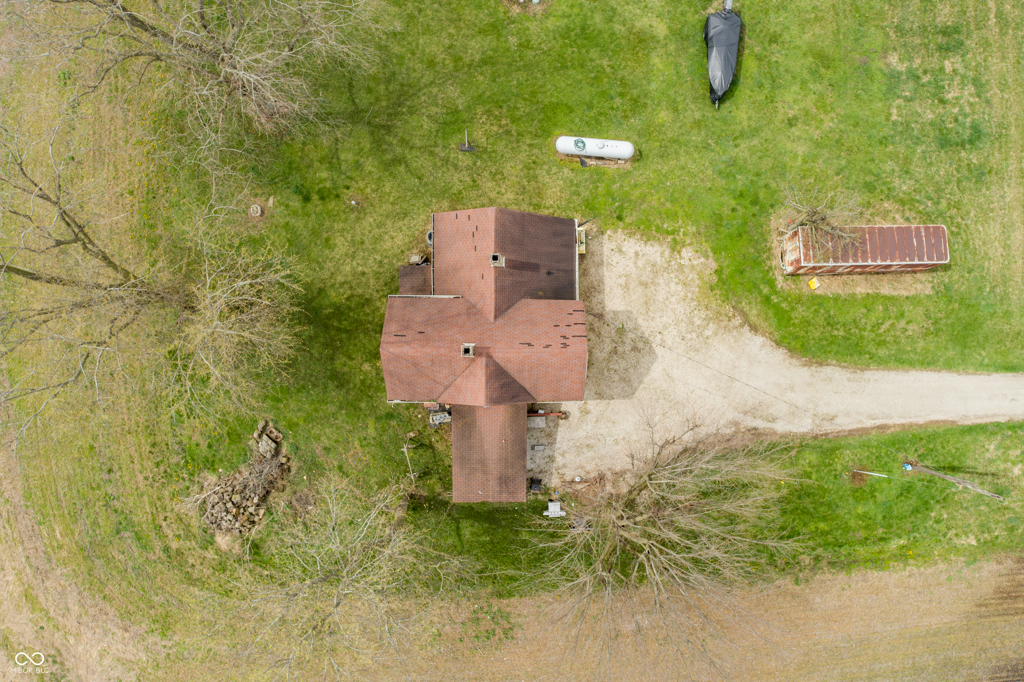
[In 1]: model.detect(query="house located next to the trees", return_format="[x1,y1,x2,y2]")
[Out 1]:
[380,207,588,503]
